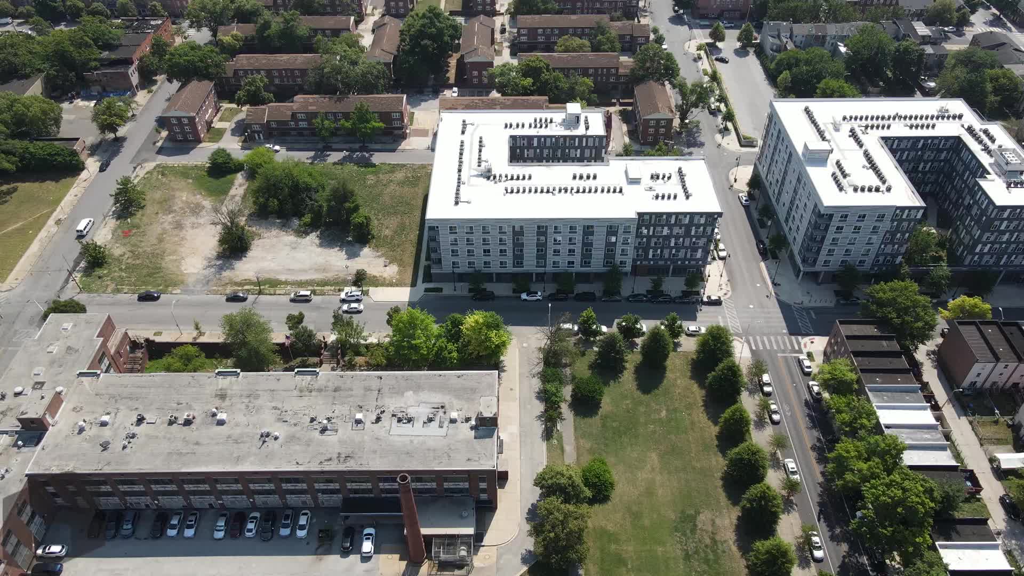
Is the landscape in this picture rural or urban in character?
urban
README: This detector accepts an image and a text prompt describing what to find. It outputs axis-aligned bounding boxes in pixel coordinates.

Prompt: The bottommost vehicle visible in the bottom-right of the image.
[806,533,826,562]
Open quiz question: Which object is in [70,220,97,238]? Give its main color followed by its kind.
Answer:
white vehicle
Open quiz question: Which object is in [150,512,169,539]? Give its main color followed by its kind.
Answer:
black car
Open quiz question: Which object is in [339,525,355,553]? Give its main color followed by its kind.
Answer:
black car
